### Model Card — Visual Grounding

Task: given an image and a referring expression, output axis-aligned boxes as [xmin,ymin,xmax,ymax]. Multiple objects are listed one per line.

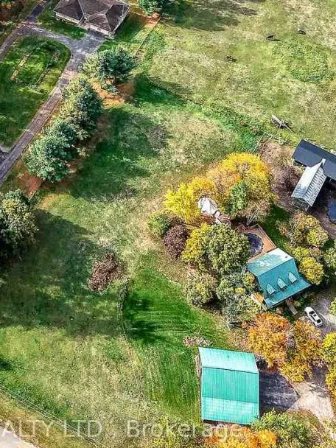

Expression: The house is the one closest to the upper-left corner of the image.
[53,0,131,38]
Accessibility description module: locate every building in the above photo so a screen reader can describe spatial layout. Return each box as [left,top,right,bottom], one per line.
[240,248,311,310]
[53,0,131,38]
[198,347,260,427]
[290,141,336,212]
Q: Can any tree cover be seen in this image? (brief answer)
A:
Yes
